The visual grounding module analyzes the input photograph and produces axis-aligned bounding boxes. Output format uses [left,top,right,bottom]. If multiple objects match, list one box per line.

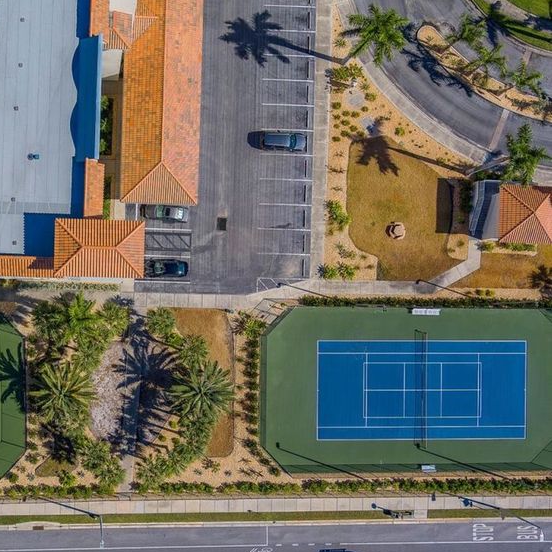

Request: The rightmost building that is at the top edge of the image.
[120,0,204,205]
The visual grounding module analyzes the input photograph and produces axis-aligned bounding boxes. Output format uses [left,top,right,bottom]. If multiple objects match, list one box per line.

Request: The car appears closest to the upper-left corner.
[141,203,188,222]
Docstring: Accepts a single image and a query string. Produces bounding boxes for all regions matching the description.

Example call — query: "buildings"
[120,0,204,205]
[482,183,552,245]
[0,0,146,285]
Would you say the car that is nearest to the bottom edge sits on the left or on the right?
left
